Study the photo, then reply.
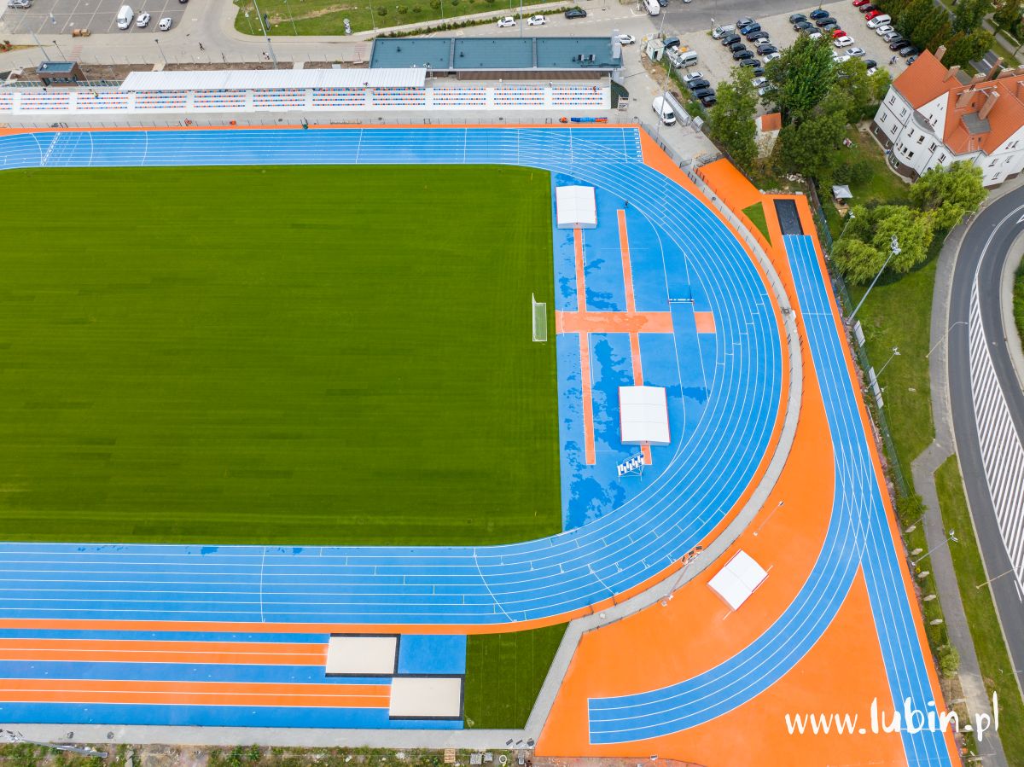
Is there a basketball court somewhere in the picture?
No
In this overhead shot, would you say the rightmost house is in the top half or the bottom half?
top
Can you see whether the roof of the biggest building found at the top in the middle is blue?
Yes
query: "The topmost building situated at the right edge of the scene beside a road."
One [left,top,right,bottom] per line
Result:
[870,47,1024,188]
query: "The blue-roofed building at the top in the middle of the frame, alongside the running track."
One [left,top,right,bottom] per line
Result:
[368,27,626,100]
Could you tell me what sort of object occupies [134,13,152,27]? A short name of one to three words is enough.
car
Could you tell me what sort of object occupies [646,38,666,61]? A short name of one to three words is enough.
shed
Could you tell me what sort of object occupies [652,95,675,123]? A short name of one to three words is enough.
vehicle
